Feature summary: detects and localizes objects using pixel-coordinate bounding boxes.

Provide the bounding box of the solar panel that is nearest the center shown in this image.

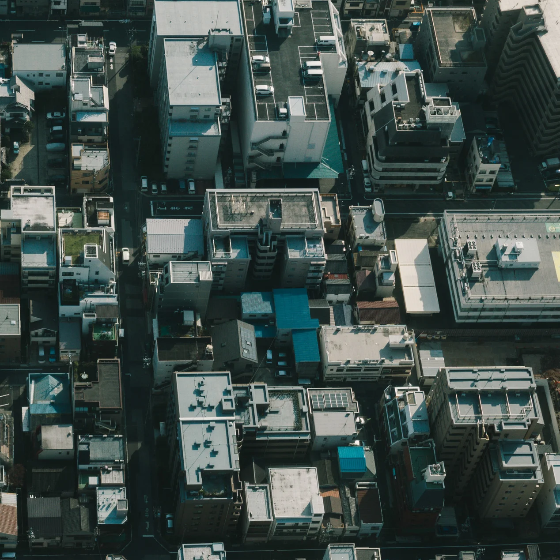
[236,322,257,363]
